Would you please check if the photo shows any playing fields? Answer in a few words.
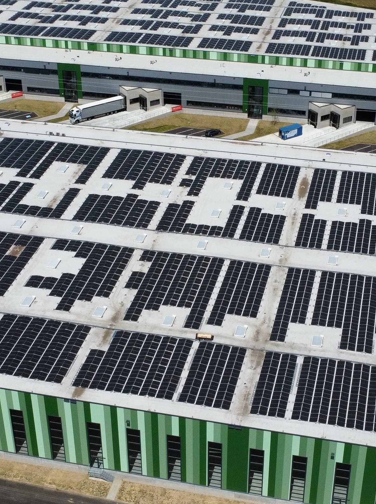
No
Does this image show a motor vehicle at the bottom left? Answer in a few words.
No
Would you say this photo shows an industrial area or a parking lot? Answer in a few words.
industrial area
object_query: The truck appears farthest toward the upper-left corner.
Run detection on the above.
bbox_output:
[66,95,123,123]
